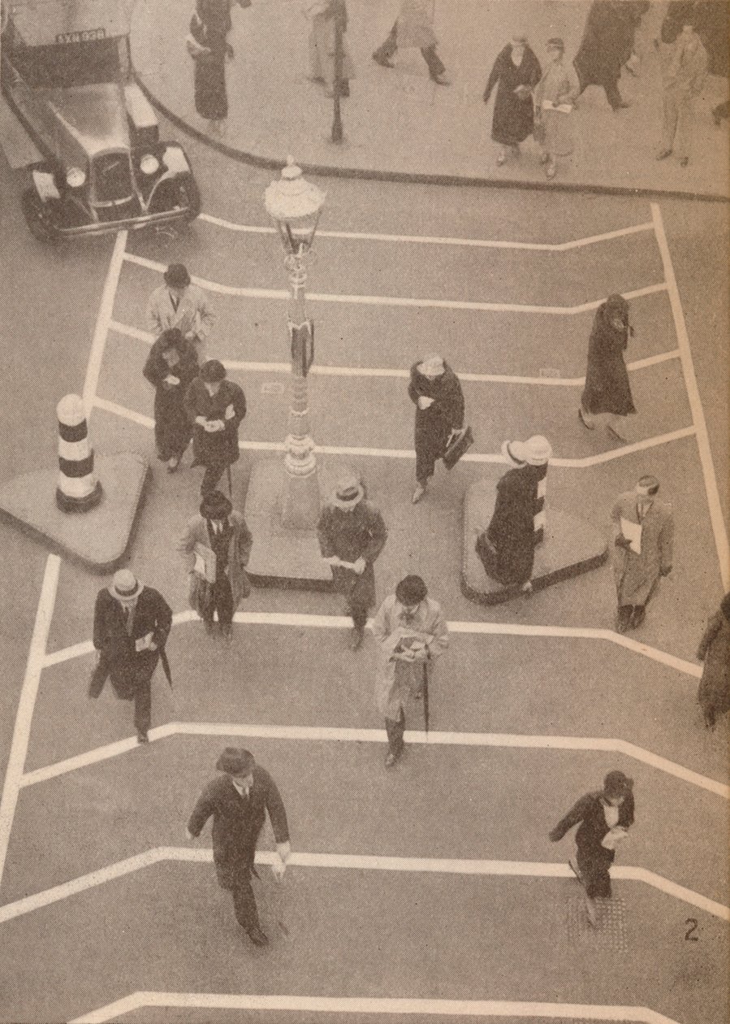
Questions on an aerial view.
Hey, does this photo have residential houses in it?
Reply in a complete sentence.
No, I find no residential house anywhere in the image.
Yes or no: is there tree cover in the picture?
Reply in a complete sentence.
No, there's no tree cover in this view.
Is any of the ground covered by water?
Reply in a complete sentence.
No, there's no water in this view.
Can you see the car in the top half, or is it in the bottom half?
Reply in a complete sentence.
The car sits in the top half of the picture.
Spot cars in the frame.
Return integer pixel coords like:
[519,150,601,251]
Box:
[0,0,201,249]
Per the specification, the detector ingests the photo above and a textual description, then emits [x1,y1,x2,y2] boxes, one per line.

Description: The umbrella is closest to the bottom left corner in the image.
[154,641,173,693]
